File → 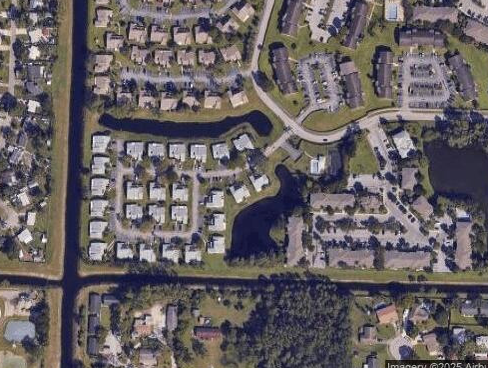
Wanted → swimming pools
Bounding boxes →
[386,0,405,22]
[310,158,319,175]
